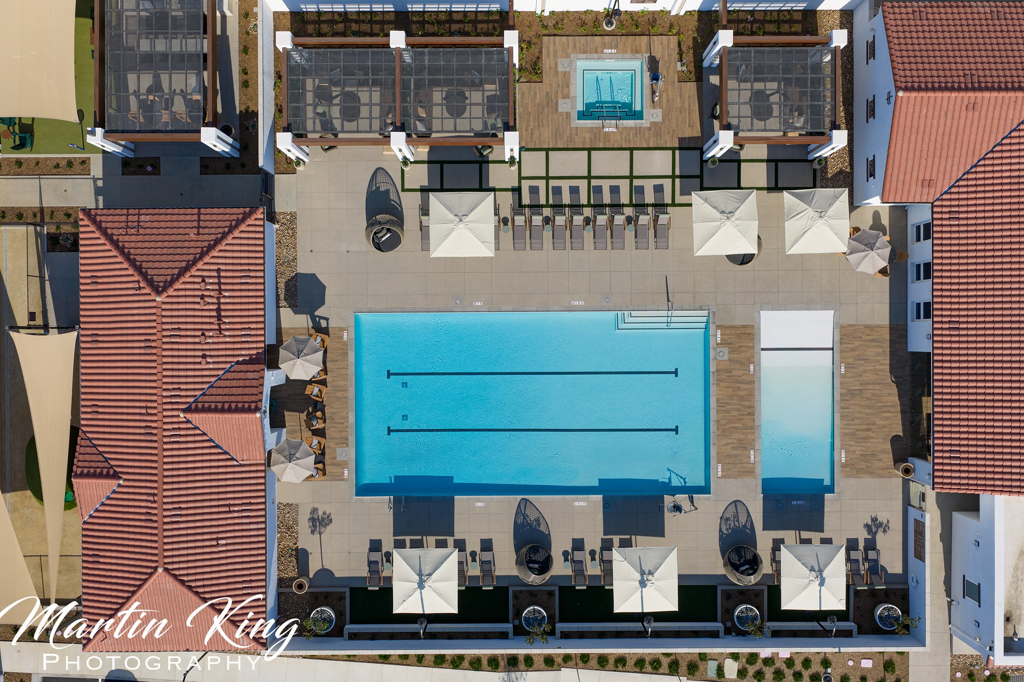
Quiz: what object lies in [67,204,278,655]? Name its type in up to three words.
building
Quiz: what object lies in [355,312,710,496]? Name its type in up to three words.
swimming pool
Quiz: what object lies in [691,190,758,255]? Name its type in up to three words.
umbrella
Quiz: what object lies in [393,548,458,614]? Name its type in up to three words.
umbrella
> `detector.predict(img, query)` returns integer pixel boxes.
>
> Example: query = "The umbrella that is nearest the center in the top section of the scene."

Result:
[429,192,494,257]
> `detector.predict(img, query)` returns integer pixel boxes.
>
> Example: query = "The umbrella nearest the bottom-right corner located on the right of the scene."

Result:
[780,544,847,611]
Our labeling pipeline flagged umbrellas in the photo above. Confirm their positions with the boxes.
[270,438,316,484]
[691,190,758,255]
[429,192,494,257]
[279,336,323,380]
[783,188,850,254]
[780,544,847,611]
[612,546,679,613]
[844,228,892,275]
[393,548,458,614]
